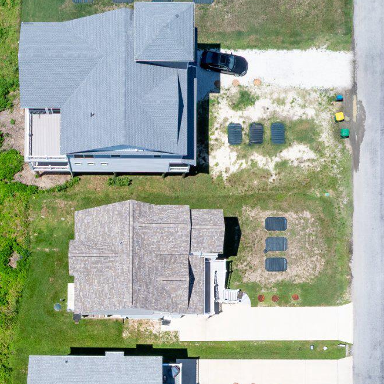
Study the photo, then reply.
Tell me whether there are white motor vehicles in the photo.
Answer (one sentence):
No, there isn't any white motor vehicle down there.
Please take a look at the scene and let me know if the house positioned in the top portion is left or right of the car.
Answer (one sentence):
It is on the left side of the car that the house positioned in the top portion is positioned.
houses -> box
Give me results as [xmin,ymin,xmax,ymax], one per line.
[19,2,197,181]
[27,352,181,384]
[68,200,241,320]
